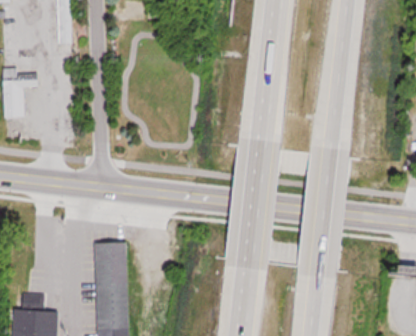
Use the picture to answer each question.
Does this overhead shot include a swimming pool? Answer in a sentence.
No, the scene contains no swimming pool.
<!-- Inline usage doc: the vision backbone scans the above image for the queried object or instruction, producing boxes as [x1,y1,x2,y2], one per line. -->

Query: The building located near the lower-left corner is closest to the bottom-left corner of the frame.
[11,292,56,336]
